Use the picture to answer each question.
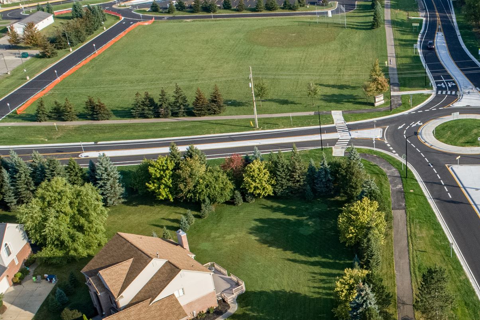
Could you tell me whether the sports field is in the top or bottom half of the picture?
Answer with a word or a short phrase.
top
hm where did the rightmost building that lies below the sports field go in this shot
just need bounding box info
[70,230,219,320]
